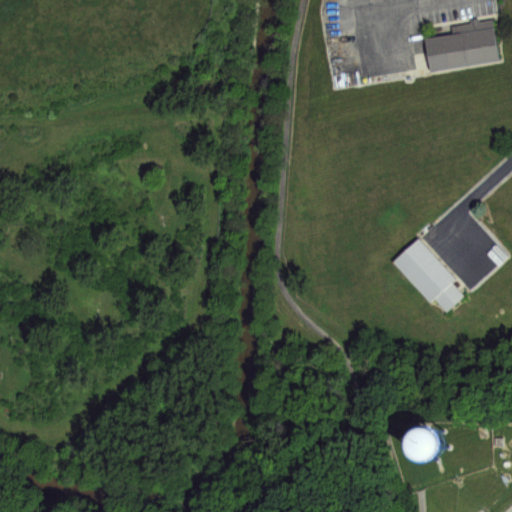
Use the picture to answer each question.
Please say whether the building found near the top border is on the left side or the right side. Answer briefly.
right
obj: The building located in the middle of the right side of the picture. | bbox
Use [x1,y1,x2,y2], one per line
[394,239,465,310]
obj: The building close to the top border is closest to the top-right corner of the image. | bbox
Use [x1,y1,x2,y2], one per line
[425,16,500,72]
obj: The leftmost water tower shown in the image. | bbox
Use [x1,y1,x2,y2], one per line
[402,422,452,464]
